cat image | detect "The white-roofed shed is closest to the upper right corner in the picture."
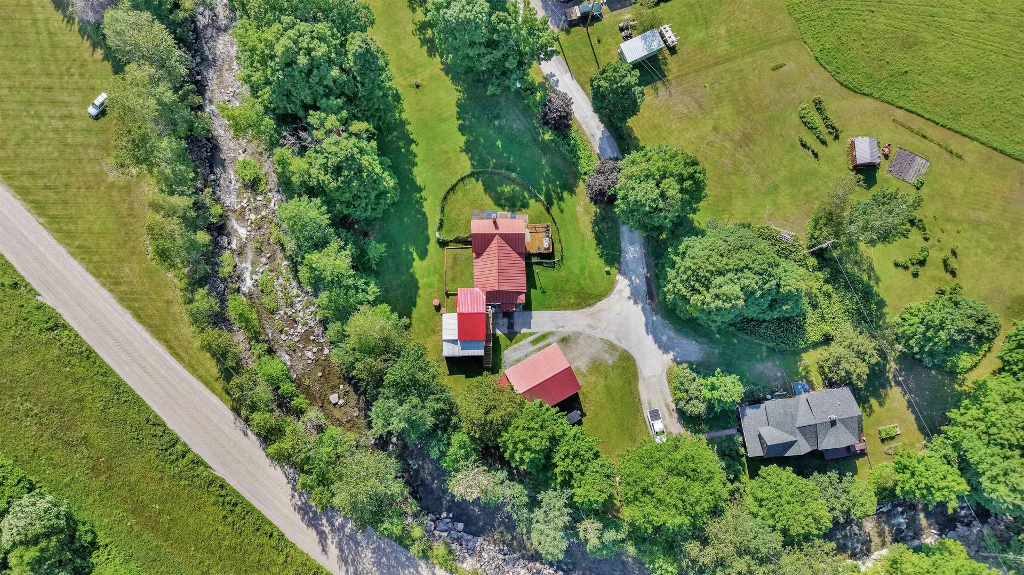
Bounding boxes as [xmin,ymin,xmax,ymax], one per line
[847,137,880,167]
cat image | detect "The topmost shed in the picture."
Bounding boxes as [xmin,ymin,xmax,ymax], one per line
[619,29,664,65]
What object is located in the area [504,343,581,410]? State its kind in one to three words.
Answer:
barn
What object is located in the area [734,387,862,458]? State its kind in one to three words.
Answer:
house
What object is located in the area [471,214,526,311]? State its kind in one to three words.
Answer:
house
